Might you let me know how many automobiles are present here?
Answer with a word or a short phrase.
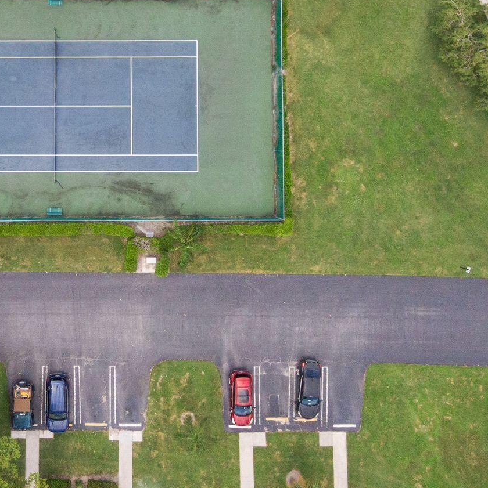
4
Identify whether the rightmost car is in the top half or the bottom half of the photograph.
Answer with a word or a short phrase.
bottom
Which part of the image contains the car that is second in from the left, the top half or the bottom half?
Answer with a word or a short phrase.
bottom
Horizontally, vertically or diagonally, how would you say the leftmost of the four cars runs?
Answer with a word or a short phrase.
vertically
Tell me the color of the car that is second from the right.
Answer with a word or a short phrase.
red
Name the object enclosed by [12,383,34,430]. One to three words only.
car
